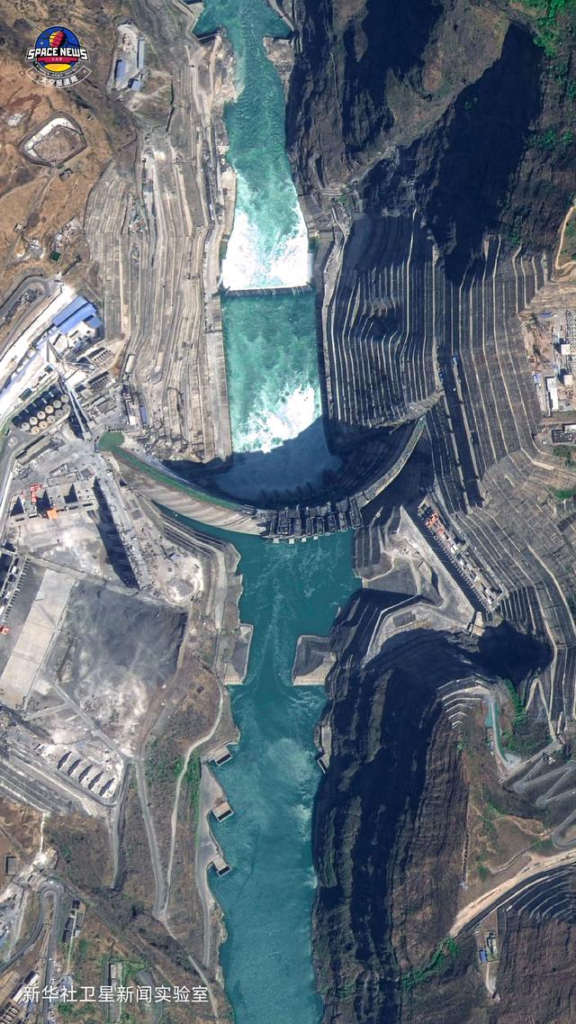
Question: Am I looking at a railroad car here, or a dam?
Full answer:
There is a dam in the scene.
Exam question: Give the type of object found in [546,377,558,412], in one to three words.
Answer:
building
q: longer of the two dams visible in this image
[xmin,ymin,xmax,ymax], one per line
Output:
[98,414,429,545]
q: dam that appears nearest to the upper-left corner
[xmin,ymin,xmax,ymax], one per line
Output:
[220,280,316,295]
